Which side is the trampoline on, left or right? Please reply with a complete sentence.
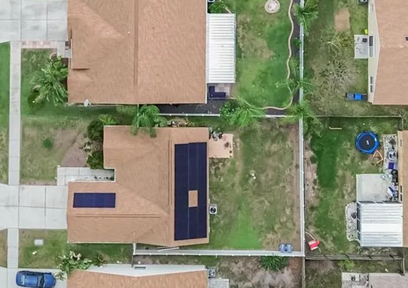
You can find the trampoline on the right side of the picture.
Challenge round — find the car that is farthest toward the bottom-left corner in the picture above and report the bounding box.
[15,271,56,288]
